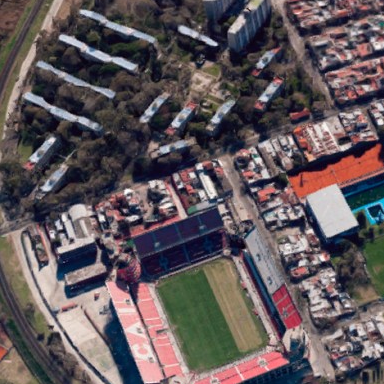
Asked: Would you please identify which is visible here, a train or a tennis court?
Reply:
tennis court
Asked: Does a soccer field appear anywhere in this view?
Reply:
Yes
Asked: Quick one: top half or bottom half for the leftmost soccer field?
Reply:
bottom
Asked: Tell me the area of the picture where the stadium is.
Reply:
bottom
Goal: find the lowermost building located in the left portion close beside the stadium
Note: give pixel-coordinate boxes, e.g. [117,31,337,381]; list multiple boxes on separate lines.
[65,262,108,289]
